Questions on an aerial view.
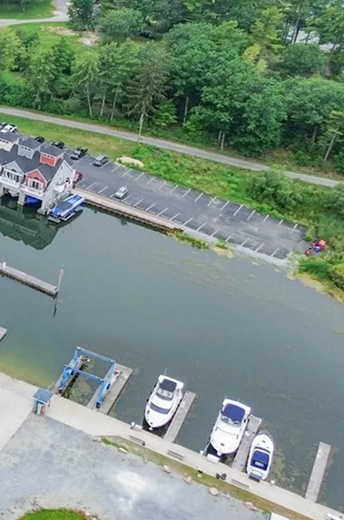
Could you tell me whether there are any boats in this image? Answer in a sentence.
Yes, a boat is visible in the scene.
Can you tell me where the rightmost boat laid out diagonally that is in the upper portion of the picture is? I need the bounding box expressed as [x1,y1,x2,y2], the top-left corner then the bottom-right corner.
[47,193,85,222]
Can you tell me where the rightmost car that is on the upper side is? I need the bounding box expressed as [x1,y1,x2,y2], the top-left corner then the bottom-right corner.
[114,183,131,199]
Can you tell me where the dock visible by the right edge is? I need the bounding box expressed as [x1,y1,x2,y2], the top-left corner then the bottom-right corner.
[302,440,334,503]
